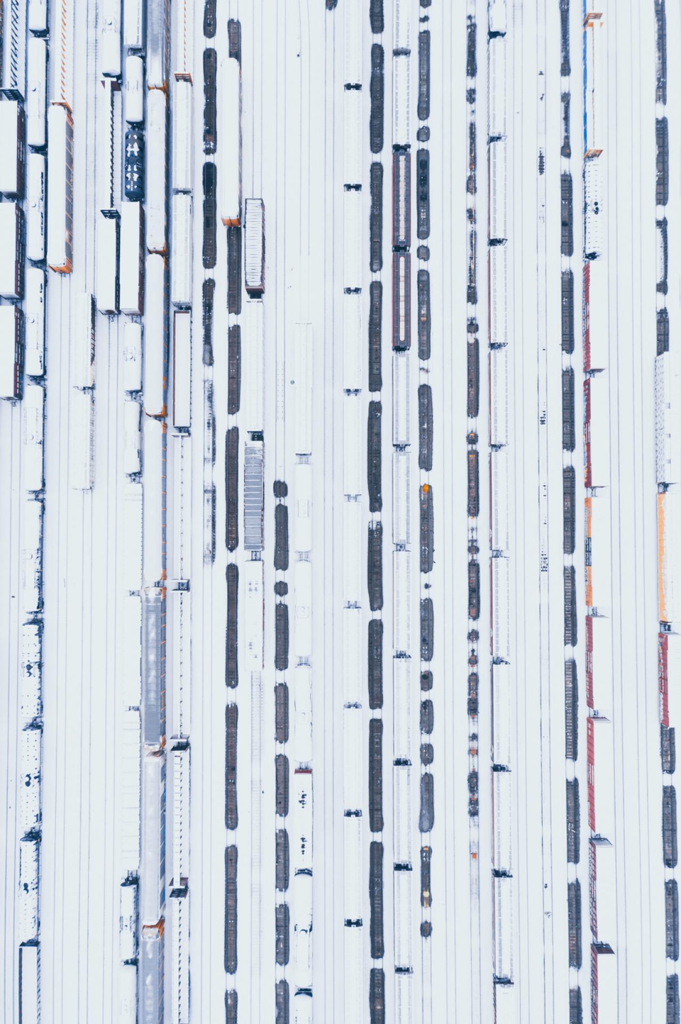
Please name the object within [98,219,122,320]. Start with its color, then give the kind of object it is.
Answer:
white rail car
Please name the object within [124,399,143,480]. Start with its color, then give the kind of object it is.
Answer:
white rail car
